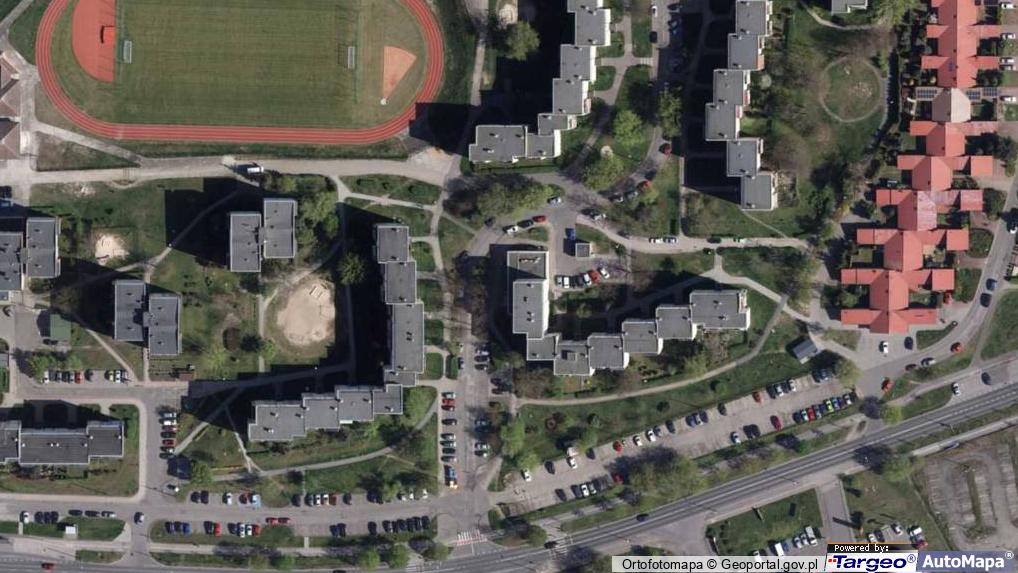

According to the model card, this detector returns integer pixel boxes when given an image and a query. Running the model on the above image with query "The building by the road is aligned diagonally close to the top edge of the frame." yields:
[469,0,609,164]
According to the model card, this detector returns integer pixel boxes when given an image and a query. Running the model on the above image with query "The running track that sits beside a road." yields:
[35,0,444,144]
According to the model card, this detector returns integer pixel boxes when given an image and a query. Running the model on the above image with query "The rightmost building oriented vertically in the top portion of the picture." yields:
[702,0,775,210]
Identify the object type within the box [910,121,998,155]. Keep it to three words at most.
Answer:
house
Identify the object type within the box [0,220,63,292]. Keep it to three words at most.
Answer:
building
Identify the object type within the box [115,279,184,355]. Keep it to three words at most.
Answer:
building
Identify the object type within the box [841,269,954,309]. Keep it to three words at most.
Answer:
house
